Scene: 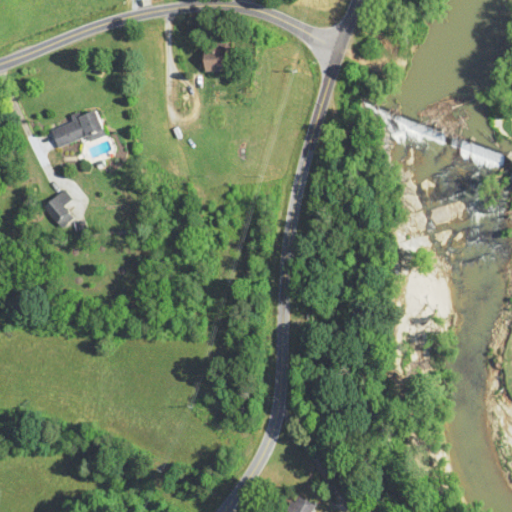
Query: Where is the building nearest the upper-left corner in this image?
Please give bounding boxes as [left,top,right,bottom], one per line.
[48,110,106,150]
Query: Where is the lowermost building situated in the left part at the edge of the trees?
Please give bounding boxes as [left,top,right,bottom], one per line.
[46,188,77,222]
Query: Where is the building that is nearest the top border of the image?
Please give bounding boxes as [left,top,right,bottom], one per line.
[202,42,231,71]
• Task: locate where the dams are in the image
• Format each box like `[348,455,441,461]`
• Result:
[367,108,506,166]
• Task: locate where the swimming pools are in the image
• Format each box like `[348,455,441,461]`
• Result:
[82,136,117,164]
